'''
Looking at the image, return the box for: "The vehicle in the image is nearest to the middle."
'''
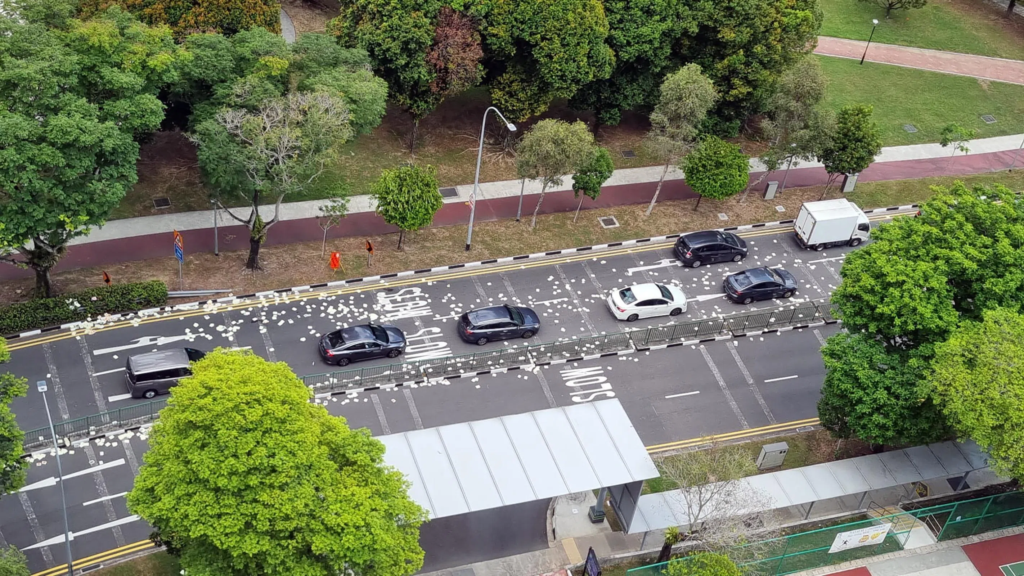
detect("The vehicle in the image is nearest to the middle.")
[457,303,546,347]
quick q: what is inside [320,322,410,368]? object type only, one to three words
car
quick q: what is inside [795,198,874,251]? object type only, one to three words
truck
